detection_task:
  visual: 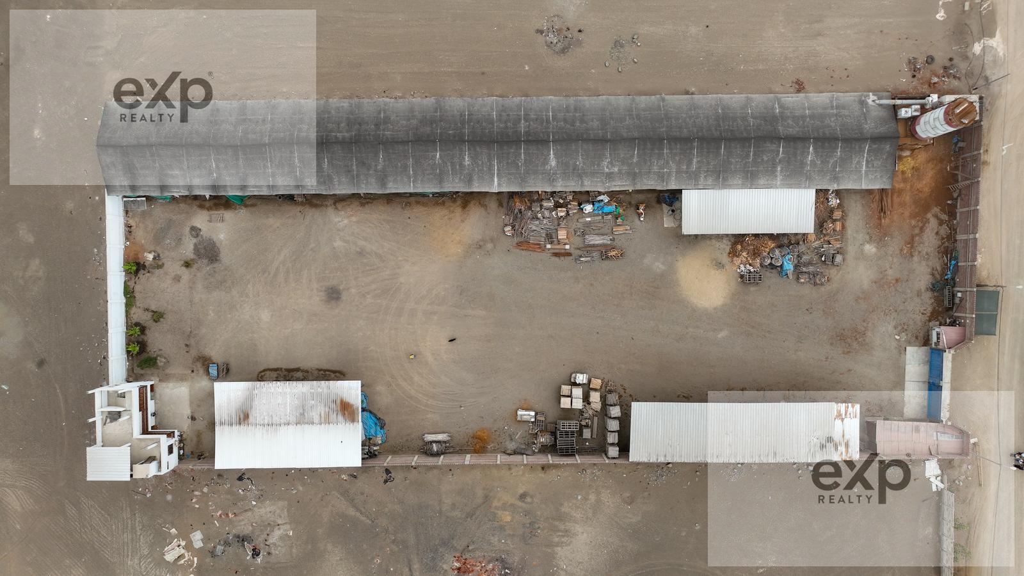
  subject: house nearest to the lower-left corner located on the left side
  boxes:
[86,377,189,481]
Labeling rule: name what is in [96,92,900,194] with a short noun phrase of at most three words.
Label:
shed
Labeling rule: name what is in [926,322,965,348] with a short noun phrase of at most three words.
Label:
shed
